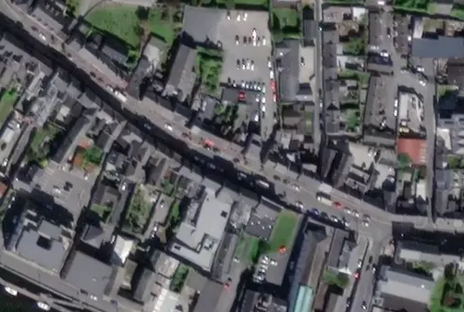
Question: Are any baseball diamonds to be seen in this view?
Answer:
No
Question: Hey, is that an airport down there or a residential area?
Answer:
residential area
